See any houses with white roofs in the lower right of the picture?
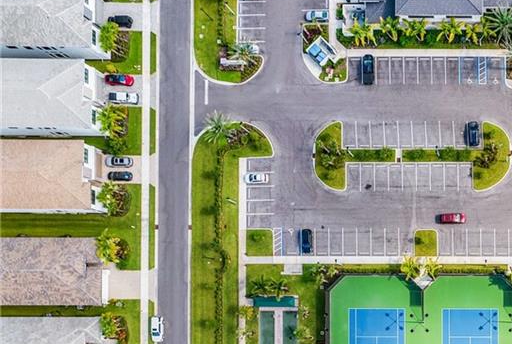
No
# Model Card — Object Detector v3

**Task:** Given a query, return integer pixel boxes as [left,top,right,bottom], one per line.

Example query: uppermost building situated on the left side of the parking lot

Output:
[0,0,108,55]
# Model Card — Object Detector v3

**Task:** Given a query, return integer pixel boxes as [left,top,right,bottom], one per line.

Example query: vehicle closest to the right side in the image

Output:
[466,121,479,147]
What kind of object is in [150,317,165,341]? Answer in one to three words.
car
